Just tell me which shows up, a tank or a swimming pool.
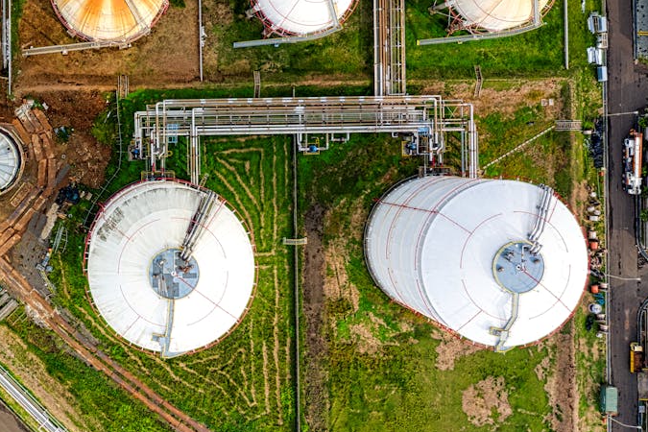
tank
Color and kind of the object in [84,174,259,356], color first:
white storage tank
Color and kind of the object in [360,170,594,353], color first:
white storage tank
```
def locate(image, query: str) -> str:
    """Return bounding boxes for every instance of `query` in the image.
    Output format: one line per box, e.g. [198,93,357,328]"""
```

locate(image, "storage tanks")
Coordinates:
[234,0,361,50]
[84,174,259,356]
[418,0,559,46]
[360,170,594,353]
[0,122,29,197]
[22,0,168,55]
